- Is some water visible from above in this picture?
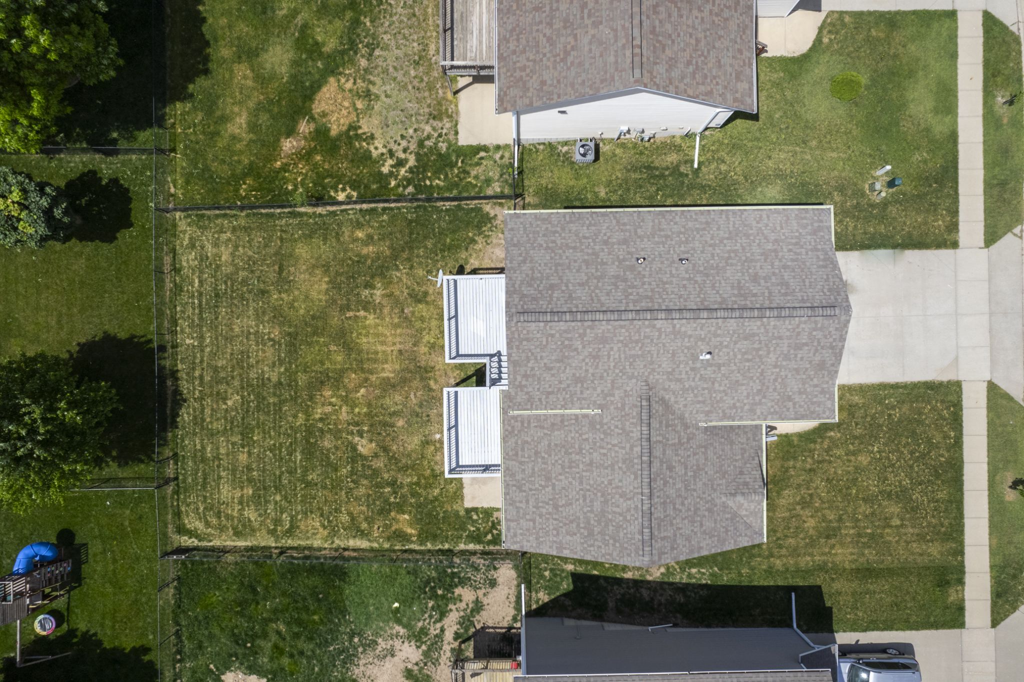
No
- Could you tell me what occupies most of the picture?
grass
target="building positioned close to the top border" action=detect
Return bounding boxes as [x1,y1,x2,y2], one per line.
[494,0,799,175]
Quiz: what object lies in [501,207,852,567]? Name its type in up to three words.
house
